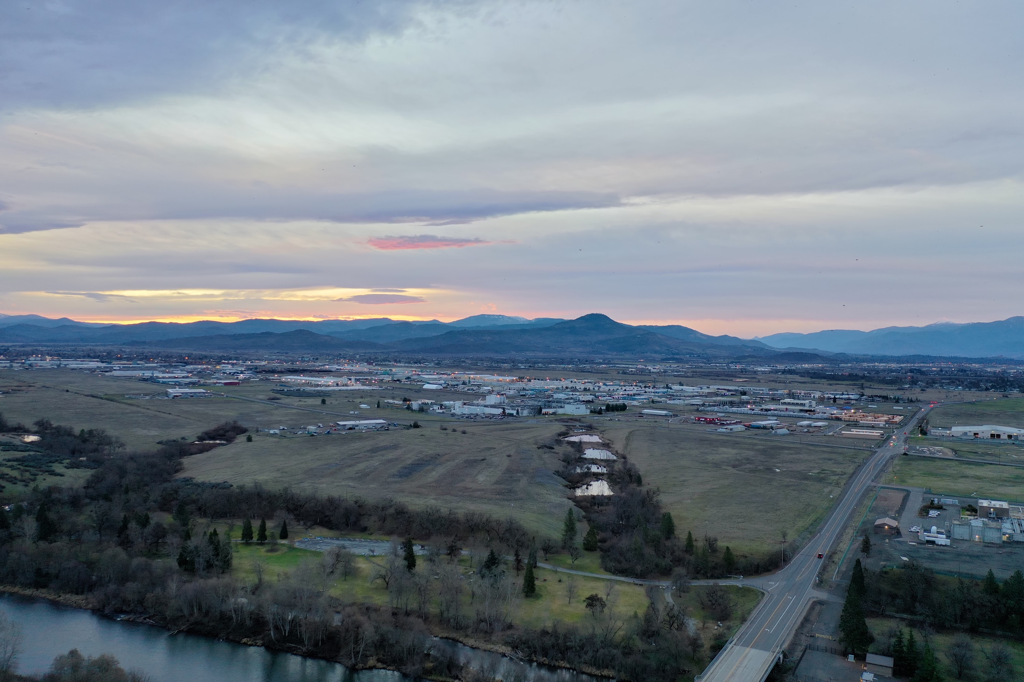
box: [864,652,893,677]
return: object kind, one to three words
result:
shed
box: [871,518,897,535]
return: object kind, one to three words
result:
building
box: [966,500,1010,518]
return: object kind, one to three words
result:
building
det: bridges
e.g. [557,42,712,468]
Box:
[688,627,785,682]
